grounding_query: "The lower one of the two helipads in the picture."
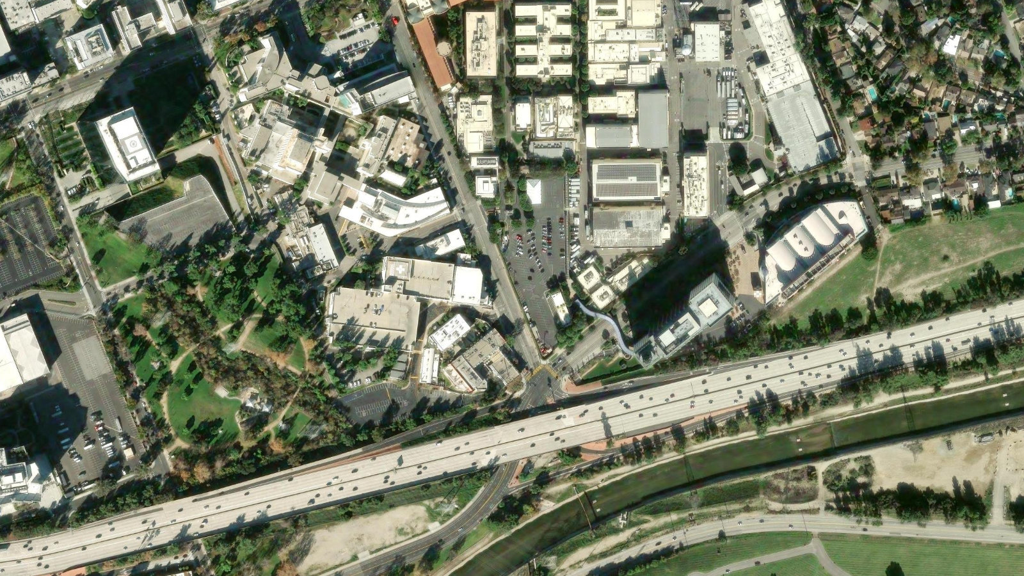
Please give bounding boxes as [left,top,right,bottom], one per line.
[392,262,408,276]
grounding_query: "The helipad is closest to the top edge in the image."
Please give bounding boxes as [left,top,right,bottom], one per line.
[124,136,143,153]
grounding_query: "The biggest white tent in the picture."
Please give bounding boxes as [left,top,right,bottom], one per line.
[526,180,541,204]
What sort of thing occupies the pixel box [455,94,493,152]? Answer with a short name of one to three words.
building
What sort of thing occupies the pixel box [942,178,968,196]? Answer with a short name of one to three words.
house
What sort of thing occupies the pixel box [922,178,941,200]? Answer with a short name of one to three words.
house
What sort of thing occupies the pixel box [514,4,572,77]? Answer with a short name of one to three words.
building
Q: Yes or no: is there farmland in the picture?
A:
No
